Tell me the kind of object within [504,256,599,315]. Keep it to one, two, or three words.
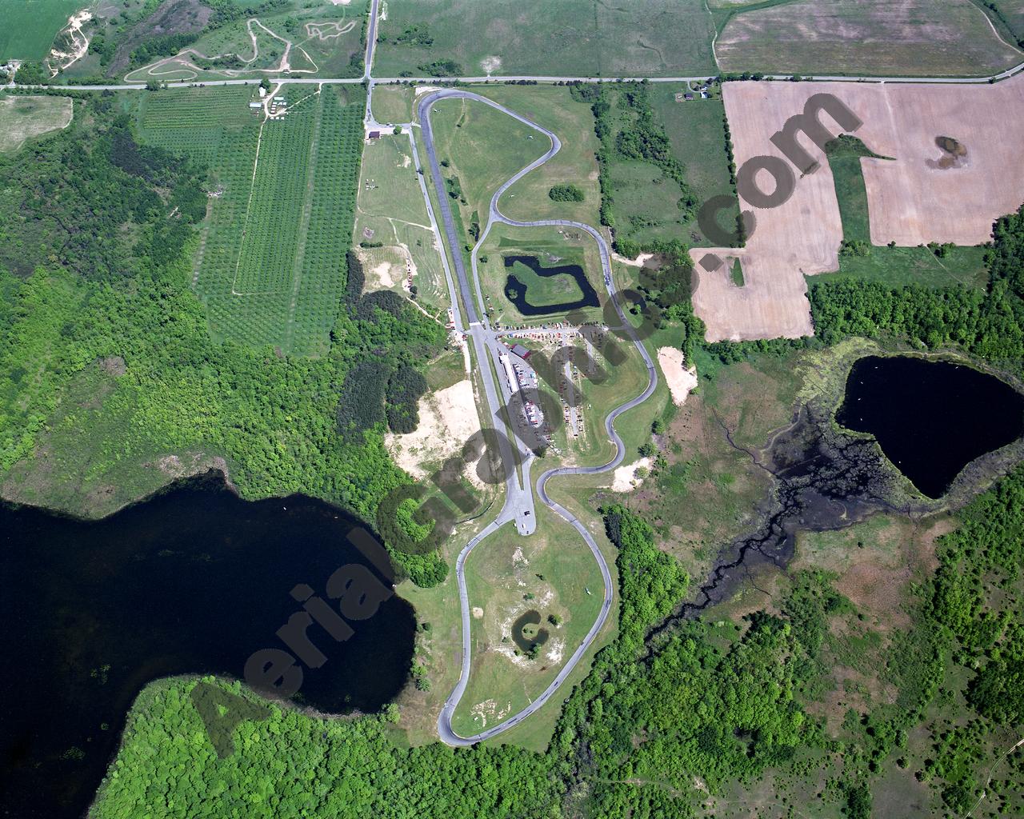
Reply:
pond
